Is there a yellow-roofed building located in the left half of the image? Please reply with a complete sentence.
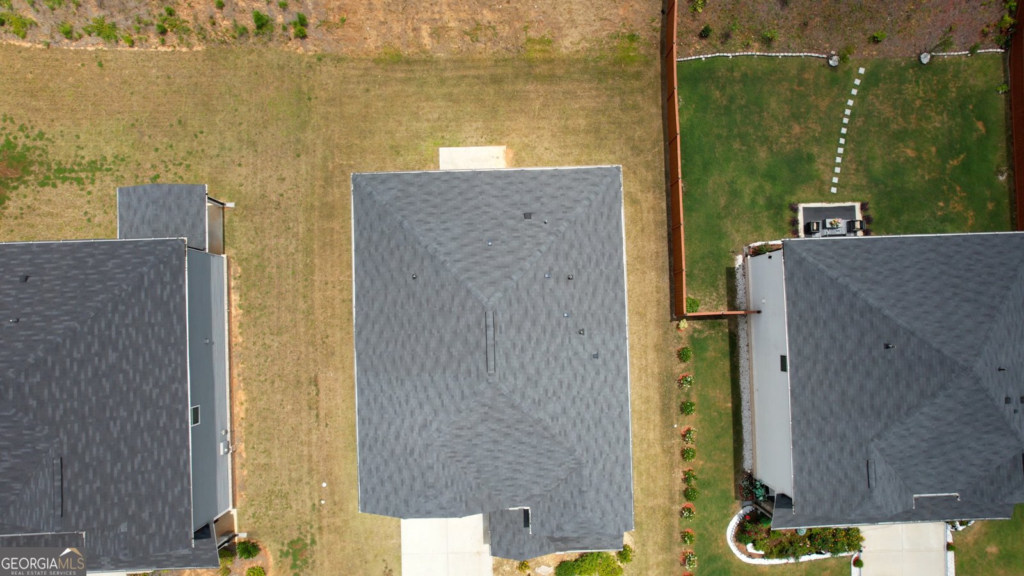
No, there is no yellow-roofed building in the left half of the image.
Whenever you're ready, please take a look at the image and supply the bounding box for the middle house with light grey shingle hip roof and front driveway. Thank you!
[350,164,634,560]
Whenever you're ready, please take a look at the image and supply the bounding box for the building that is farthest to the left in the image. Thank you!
[0,184,241,575]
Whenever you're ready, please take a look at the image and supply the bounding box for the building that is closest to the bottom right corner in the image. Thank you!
[746,231,1024,530]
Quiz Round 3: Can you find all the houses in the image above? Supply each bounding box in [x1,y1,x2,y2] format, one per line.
[746,231,1024,530]
[0,184,241,575]
[350,164,634,560]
